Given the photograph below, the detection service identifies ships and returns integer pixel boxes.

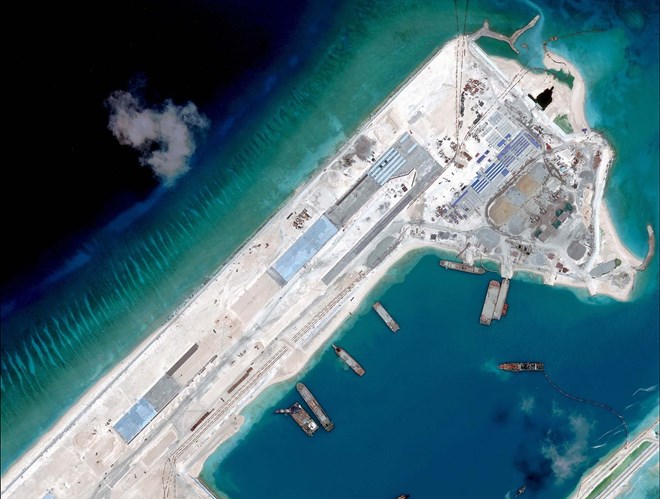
[276,404,320,435]
[298,384,334,432]
[373,301,400,333]
[333,346,365,377]
[439,259,486,275]
[498,362,544,372]
[493,279,509,320]
[480,280,500,326]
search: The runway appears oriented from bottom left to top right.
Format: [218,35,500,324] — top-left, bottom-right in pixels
[113,173,382,445]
